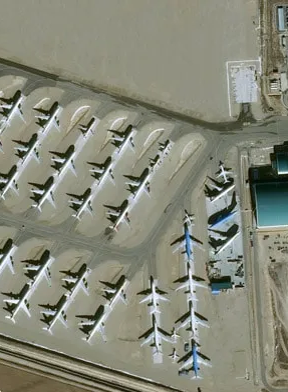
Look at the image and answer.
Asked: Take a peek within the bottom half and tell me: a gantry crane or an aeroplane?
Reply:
aeroplane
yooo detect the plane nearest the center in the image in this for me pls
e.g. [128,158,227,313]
[127,175,152,203]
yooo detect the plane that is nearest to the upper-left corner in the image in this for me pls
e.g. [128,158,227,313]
[0,97,25,125]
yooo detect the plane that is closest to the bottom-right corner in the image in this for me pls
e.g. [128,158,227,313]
[179,343,211,379]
